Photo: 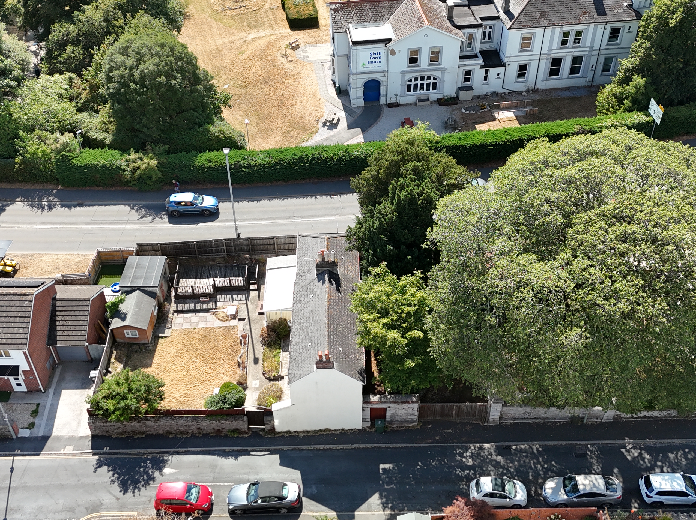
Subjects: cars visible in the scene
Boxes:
[227,476,304,512]
[540,470,623,507]
[468,473,528,506]
[637,471,696,507]
[153,478,215,514]
[166,189,221,216]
